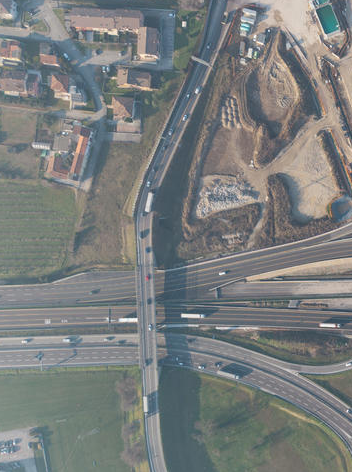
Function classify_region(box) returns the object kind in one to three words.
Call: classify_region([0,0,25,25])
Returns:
house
